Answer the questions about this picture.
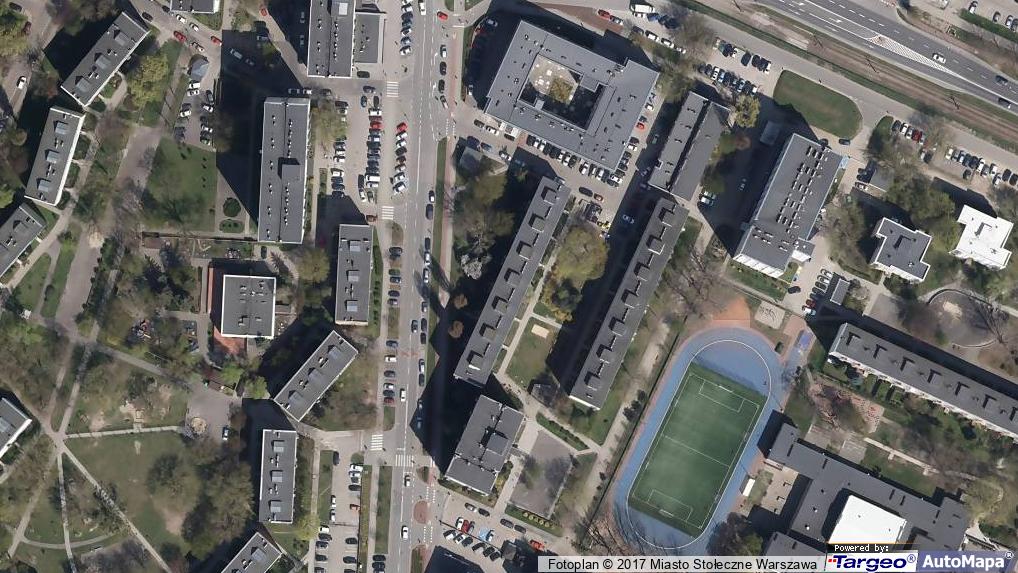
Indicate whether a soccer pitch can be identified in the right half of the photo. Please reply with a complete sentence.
Yes, I can see a soccer pitch in the right half of the photo.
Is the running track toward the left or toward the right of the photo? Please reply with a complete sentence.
The running track is on the right side of the image.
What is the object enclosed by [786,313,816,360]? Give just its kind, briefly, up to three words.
sports court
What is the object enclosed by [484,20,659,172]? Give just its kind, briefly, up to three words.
building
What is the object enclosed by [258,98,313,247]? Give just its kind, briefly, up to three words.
building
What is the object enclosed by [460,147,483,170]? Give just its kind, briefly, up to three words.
shed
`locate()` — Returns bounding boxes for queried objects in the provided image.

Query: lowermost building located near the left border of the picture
[0,398,32,457]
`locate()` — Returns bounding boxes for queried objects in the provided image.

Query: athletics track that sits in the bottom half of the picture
[613,327,801,564]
